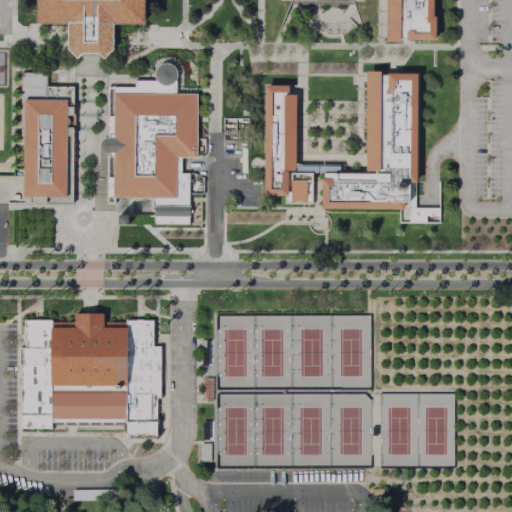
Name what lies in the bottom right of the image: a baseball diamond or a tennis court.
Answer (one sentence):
There is a tennis court in the bottom right of the image.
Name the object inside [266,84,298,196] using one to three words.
building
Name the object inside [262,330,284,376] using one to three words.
tennis court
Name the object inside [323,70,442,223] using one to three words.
building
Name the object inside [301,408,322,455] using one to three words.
tennis court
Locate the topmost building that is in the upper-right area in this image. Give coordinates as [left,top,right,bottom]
[388,0,438,42]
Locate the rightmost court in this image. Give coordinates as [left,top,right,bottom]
[424,408,449,454]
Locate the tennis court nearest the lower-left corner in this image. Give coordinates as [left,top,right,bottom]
[226,408,247,455]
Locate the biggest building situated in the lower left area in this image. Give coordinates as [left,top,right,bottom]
[21,313,162,436]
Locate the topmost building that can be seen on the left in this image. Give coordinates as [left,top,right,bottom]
[36,0,145,58]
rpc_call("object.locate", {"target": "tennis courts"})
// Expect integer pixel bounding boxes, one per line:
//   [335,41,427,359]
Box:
[226,408,247,455]
[226,330,246,376]
[302,330,322,376]
[262,408,284,455]
[341,330,362,376]
[340,408,362,455]
[424,408,449,454]
[388,408,412,454]
[262,330,284,376]
[301,408,322,455]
